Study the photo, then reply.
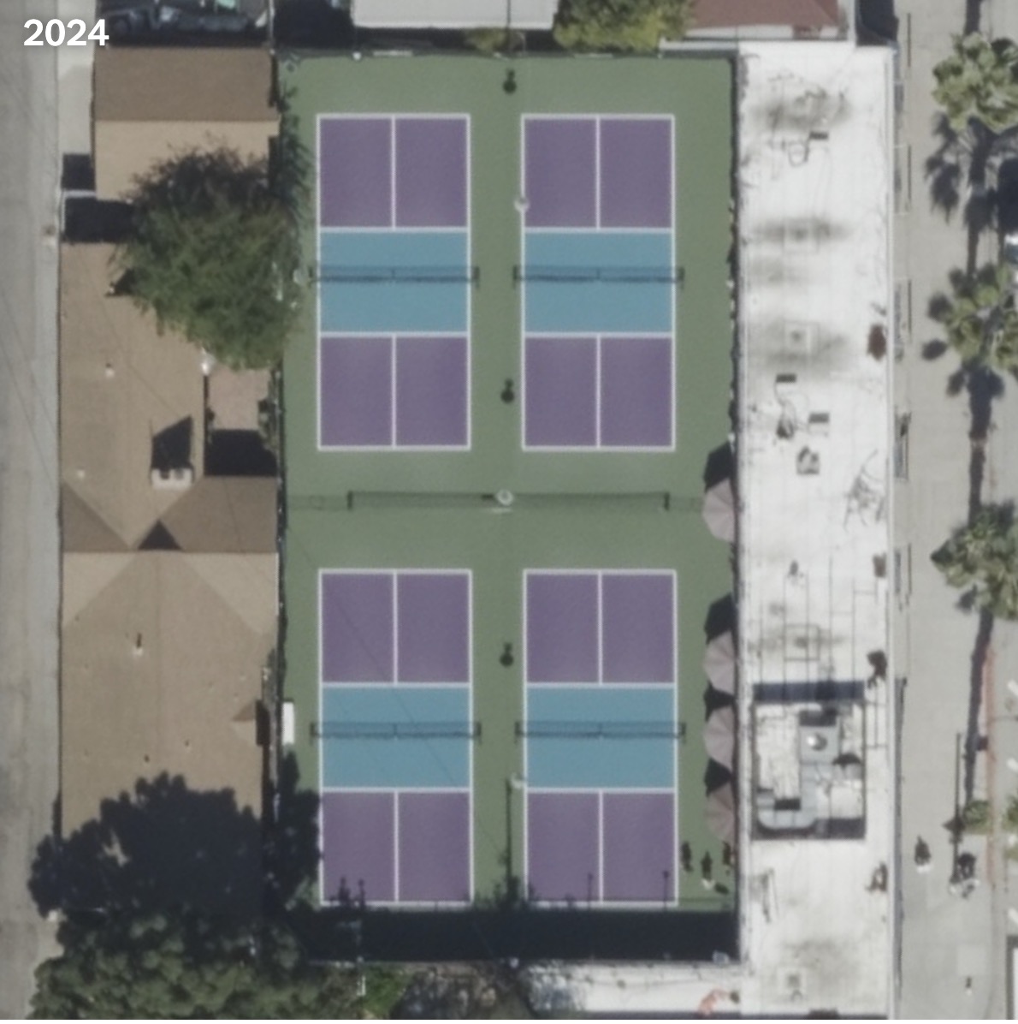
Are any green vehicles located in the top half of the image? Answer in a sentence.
No, in the top half of the image there is no green vehicle.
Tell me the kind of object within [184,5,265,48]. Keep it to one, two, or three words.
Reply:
car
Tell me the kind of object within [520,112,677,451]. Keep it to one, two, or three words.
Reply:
sports court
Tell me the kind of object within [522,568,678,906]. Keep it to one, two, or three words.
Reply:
sports court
